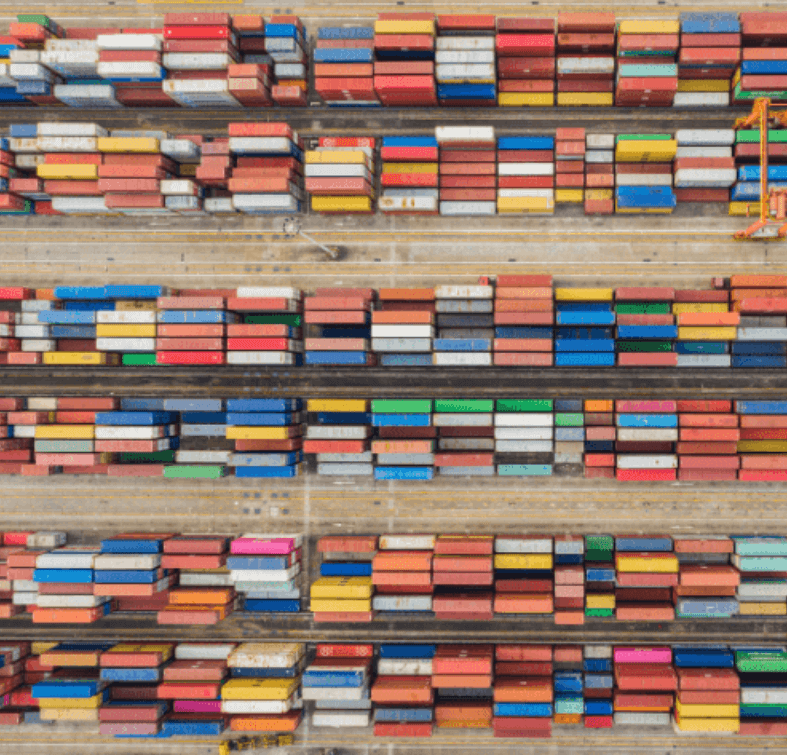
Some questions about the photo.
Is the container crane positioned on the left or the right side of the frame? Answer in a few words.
right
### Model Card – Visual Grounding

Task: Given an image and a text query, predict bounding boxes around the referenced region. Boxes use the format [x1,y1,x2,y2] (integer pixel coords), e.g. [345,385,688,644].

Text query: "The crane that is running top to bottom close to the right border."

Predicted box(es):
[733,93,787,240]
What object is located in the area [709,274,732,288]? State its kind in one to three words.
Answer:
vehicle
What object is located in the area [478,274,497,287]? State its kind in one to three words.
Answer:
vehicle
